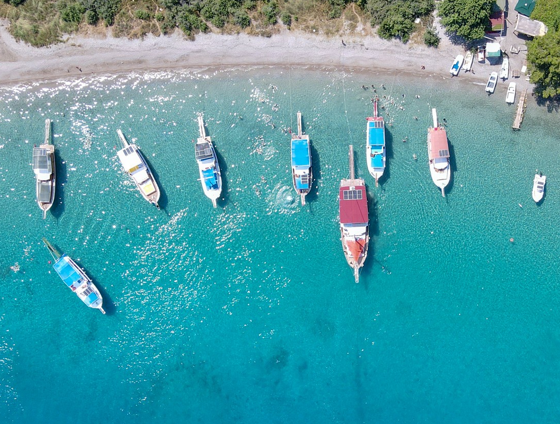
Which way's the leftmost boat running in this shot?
vertically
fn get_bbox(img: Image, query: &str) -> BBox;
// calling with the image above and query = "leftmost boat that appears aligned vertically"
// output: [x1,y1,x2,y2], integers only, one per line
[32,119,58,219]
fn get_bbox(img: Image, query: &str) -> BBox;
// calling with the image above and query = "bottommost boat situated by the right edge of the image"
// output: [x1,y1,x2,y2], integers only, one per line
[532,171,546,202]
